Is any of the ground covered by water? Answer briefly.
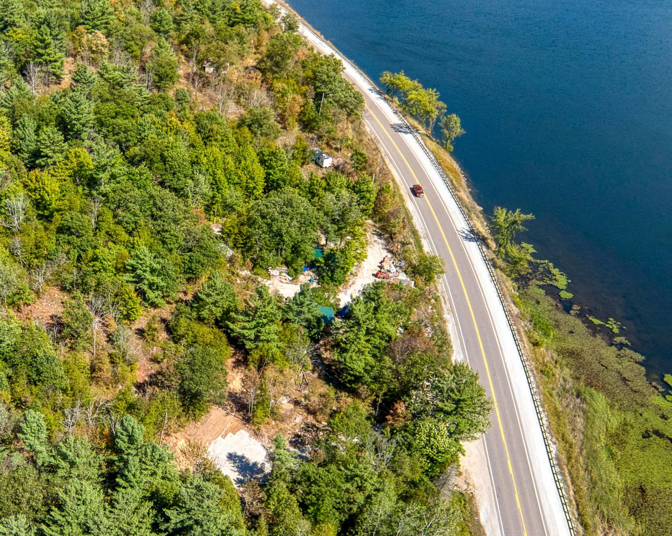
Yes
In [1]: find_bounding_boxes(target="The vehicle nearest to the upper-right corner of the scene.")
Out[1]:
[413,183,426,195]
